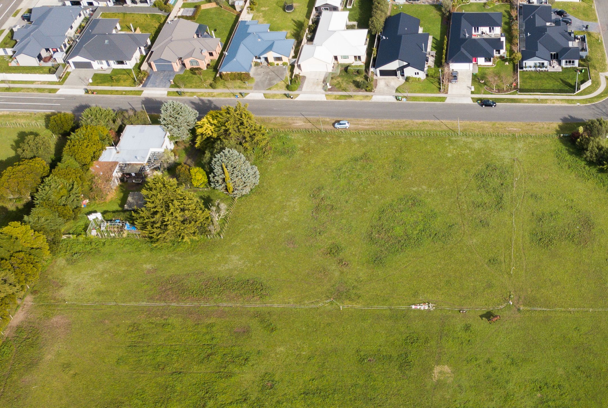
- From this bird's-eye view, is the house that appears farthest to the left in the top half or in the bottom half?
top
